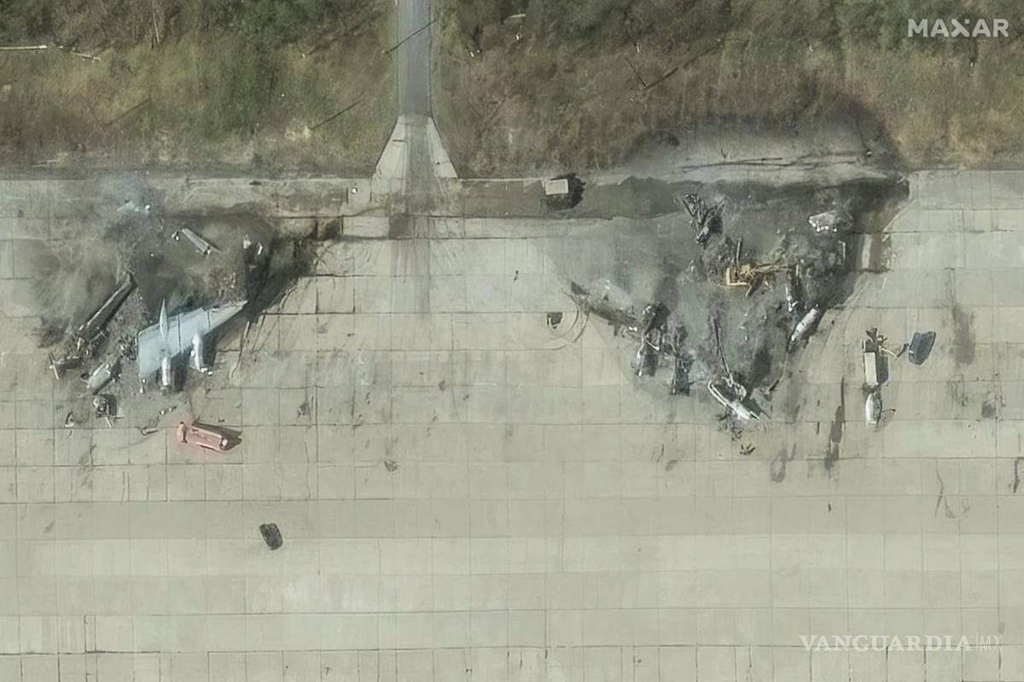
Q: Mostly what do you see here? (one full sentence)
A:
The largest share of the image is taken up by paved ground.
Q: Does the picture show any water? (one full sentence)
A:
No, water can't be seen anywhere here.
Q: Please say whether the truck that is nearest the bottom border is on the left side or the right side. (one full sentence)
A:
The truck that is nearest the bottom border sits on the left side.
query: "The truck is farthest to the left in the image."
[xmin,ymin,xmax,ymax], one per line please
[178,417,226,453]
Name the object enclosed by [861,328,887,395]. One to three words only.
truck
